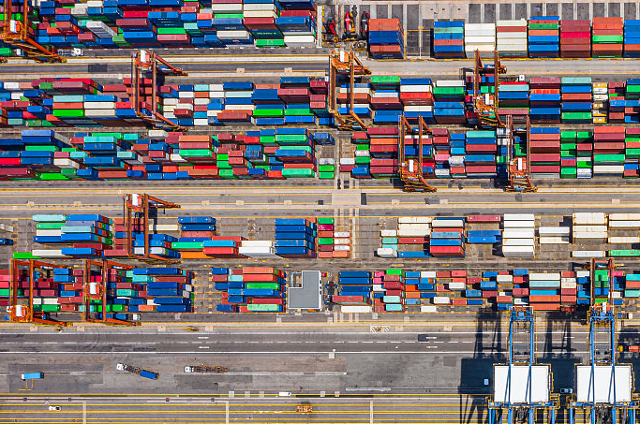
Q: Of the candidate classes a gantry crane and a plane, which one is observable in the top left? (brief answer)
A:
gantry crane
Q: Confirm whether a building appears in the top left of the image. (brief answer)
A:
No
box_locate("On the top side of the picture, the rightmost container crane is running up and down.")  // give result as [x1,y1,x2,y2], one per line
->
[503,112,539,190]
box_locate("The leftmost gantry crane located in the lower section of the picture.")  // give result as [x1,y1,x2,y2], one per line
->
[9,257,78,324]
